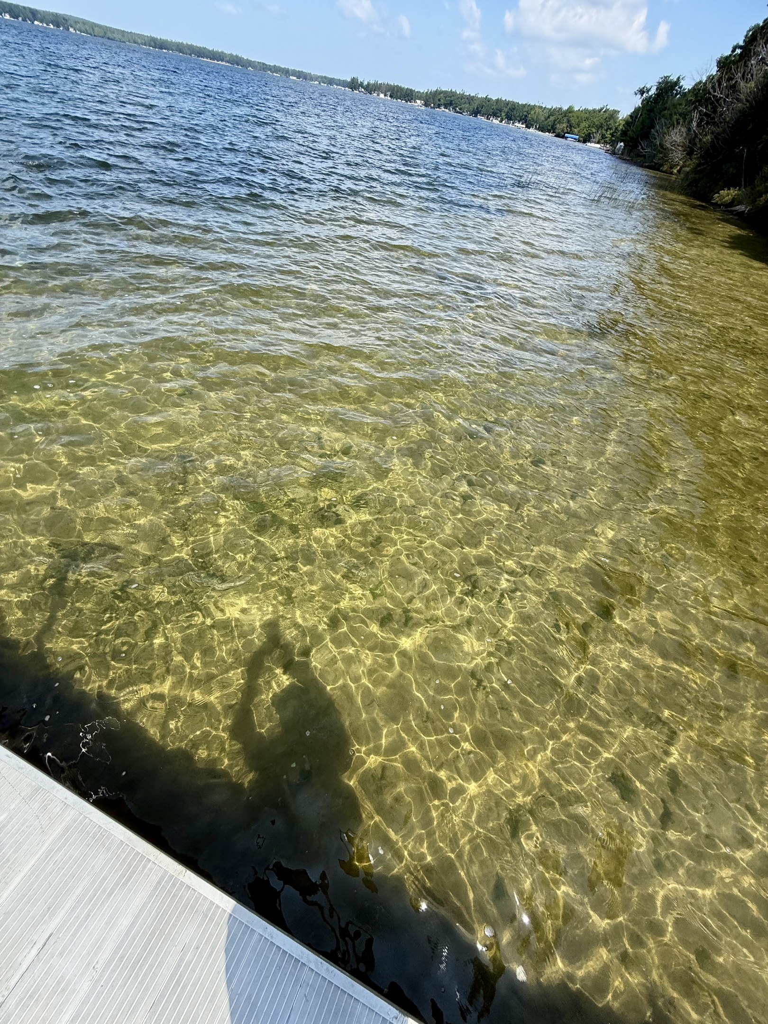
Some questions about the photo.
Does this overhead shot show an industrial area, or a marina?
marina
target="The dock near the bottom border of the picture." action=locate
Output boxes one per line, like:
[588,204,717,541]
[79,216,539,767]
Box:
[0,742,429,1024]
